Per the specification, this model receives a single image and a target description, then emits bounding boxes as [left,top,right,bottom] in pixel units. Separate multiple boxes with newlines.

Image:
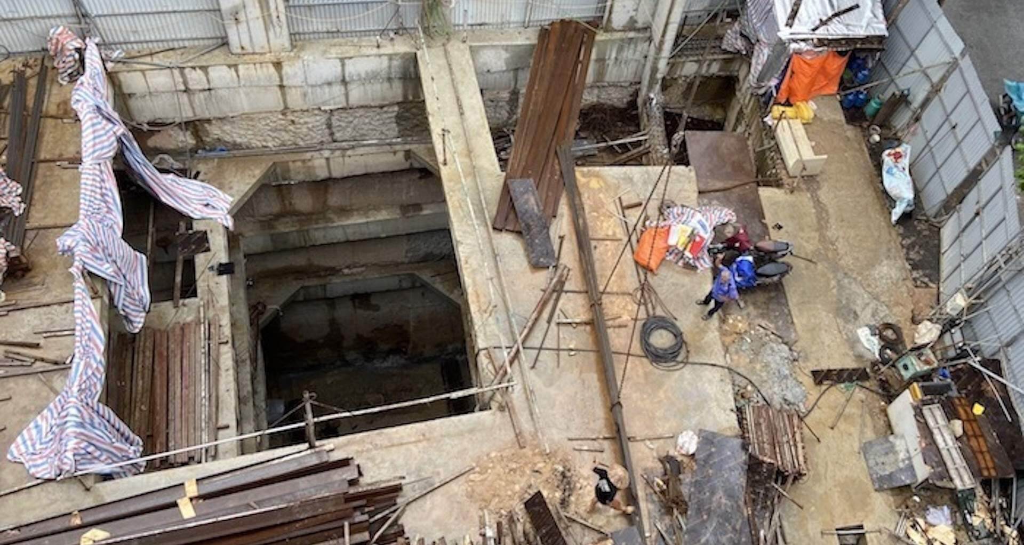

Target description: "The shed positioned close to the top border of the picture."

[728,0,885,103]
